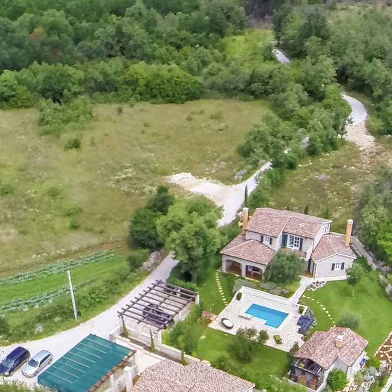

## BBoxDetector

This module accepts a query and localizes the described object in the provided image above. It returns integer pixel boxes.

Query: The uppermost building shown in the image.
[219,208,350,280]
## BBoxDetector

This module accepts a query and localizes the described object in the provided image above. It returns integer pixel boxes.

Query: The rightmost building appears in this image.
[290,327,368,390]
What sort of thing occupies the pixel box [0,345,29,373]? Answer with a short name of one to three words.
car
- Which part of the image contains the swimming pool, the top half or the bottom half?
bottom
